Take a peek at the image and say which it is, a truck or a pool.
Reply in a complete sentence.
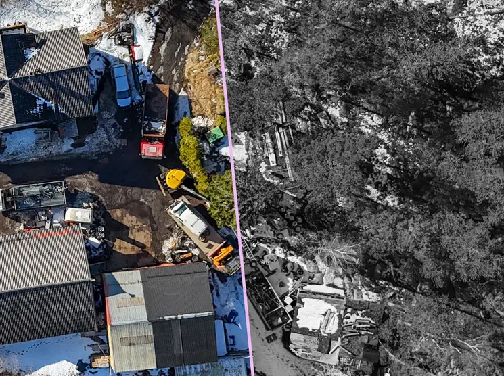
The image shows a truck.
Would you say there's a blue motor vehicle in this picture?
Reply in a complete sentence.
Yes, there's a blue motor vehicle here.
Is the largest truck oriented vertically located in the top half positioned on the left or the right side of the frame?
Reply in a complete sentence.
It is on the left.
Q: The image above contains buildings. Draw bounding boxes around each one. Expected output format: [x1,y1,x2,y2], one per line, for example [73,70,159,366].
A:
[99,263,219,373]
[0,28,92,132]
[0,223,97,346]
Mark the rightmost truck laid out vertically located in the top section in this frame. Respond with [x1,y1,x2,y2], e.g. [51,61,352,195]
[139,81,172,161]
